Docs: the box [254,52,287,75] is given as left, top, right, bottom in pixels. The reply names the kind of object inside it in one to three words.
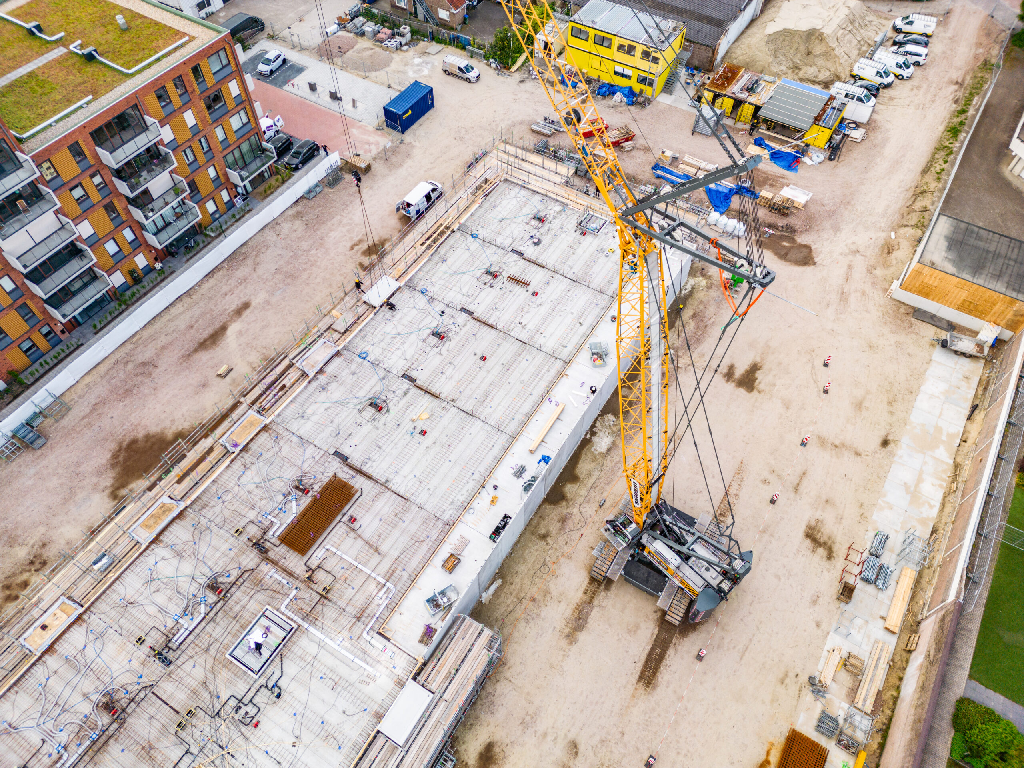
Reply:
car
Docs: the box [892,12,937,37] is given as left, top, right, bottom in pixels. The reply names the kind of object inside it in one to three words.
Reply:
vehicle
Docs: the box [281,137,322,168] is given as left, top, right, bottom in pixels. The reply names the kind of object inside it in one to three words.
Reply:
car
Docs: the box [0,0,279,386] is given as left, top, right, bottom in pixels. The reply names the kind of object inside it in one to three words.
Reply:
building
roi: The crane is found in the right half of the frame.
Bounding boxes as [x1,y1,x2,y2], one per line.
[496,0,829,627]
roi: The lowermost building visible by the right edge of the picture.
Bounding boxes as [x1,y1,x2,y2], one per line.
[884,208,1024,347]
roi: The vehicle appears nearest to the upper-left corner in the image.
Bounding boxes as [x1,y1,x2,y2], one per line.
[218,13,261,37]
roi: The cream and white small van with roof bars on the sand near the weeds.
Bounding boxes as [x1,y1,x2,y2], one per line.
[443,53,480,81]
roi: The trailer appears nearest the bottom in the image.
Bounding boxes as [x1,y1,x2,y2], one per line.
[938,321,994,358]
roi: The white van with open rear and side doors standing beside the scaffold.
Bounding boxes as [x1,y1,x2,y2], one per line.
[391,182,440,220]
